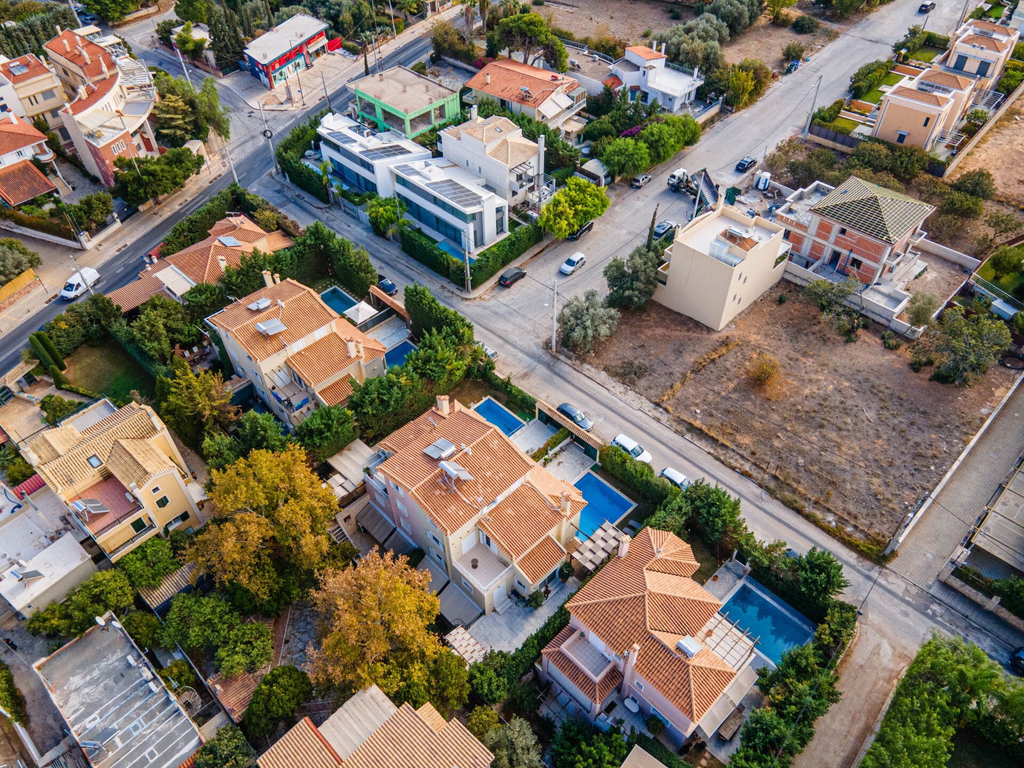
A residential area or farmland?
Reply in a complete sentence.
What you see here is a residential area.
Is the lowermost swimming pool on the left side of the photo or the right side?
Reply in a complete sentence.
You can find the lowermost swimming pool on the right side of the picture.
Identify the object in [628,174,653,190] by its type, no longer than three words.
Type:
car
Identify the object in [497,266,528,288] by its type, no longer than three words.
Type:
car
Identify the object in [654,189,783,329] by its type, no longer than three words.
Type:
house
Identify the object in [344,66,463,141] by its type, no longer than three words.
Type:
building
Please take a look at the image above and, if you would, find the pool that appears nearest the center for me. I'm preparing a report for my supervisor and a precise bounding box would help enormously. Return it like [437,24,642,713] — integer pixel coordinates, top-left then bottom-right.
[466,390,533,438]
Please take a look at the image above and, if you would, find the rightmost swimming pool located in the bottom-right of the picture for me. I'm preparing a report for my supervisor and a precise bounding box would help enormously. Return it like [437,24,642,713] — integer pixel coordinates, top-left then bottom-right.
[708,571,818,668]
